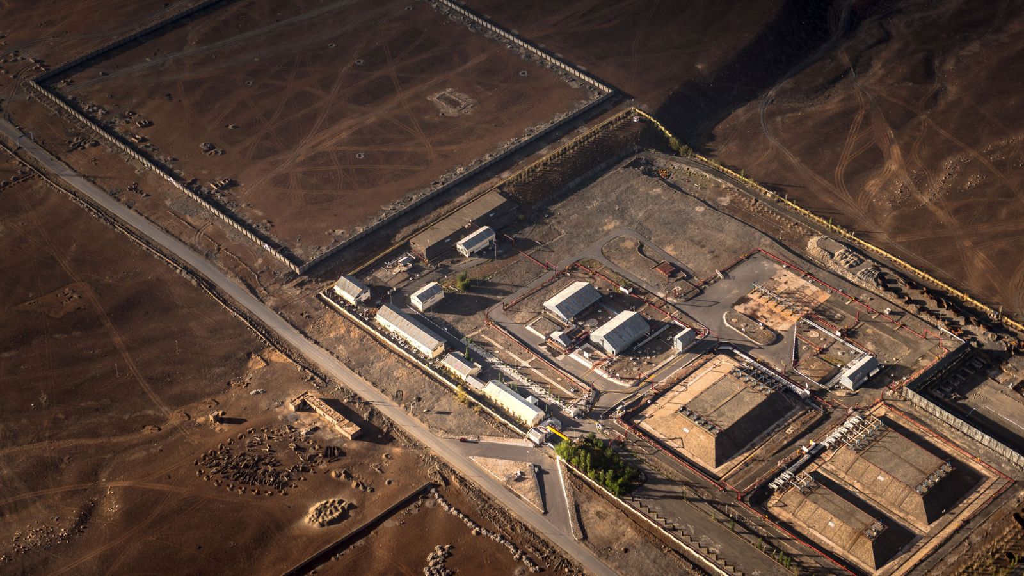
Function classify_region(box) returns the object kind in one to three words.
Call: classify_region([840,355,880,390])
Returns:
building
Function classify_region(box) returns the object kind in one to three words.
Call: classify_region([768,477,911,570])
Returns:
storage tank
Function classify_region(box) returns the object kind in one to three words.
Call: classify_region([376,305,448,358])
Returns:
building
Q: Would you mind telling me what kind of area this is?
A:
industrial area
